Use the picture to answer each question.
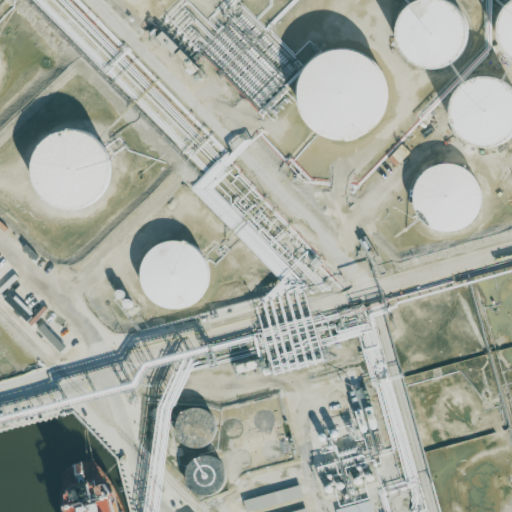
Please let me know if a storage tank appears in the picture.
Yes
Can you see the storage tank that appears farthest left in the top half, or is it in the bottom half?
top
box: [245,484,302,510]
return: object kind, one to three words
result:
building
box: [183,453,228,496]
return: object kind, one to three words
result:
storage tank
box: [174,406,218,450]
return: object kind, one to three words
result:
storage tank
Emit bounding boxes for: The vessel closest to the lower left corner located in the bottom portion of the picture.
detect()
[60,460,124,512]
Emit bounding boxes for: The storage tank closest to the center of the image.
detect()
[140,240,212,311]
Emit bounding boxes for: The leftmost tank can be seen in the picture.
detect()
[30,129,114,212]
